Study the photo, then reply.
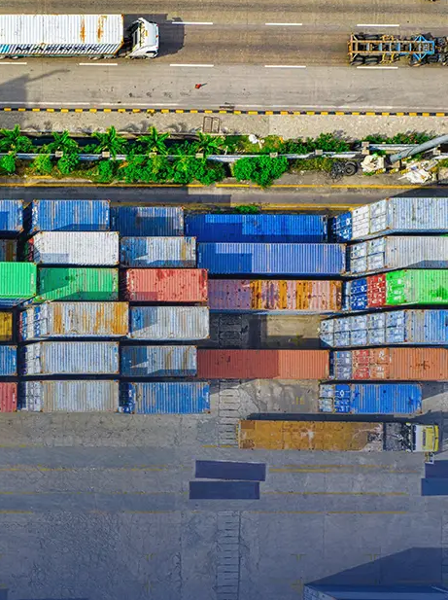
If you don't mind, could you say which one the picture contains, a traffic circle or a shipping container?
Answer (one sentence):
The image shows a shipping container.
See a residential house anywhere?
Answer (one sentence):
No, no residential house can be seen from above.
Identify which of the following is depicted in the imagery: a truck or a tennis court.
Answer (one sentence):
I can see a truck in this picture.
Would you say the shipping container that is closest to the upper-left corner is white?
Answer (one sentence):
Yes, white is the color of the shipping container that is closest to the upper-left corner.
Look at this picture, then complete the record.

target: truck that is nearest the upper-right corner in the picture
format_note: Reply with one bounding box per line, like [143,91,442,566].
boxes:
[341,37,448,71]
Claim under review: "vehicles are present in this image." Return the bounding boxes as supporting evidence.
[79,24,162,65]
[341,37,448,71]
[234,417,438,462]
